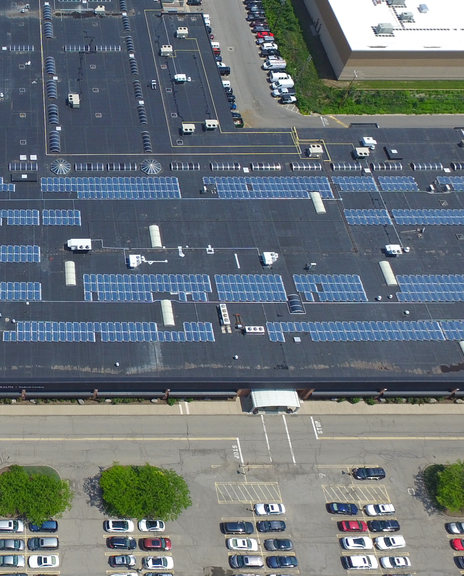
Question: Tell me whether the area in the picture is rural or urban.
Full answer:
It looks urban.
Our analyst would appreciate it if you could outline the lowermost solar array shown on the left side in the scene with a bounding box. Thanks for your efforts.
[3,322,216,342]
